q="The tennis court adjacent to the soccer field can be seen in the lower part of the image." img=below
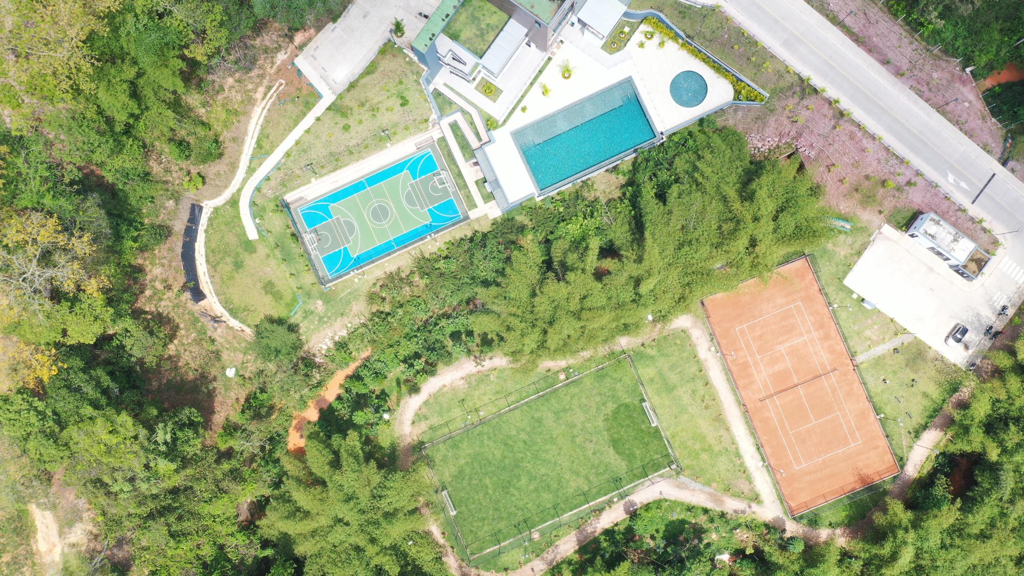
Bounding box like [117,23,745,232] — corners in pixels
[699,255,901,518]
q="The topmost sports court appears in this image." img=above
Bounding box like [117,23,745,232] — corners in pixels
[291,142,469,285]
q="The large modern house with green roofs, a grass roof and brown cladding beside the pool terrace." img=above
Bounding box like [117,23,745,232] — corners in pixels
[412,0,575,89]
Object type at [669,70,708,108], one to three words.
swimming pool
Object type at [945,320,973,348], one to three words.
car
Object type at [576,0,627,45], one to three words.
building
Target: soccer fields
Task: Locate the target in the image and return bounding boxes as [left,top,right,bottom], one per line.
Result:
[421,353,678,561]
